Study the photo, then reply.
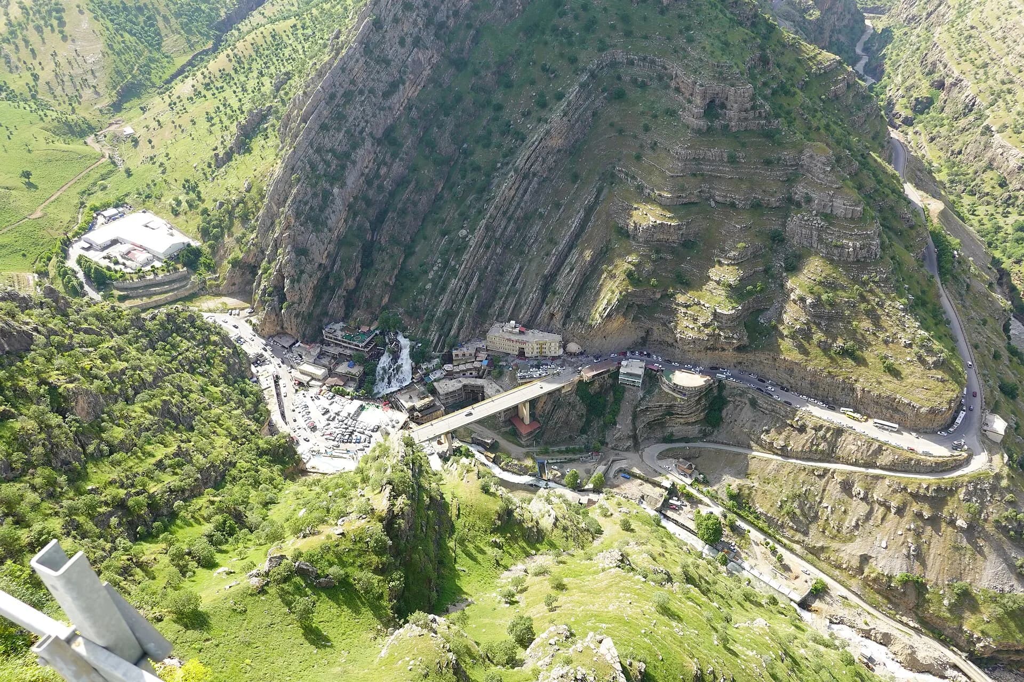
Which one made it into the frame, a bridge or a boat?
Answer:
bridge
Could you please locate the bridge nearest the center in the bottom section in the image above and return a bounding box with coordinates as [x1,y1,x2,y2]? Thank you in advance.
[411,371,584,448]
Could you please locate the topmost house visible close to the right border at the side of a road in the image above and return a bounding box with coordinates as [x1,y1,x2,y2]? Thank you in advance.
[979,413,1008,444]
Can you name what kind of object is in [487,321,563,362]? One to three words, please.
building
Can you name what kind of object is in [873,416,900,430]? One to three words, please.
vehicle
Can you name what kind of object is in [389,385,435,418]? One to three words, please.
building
